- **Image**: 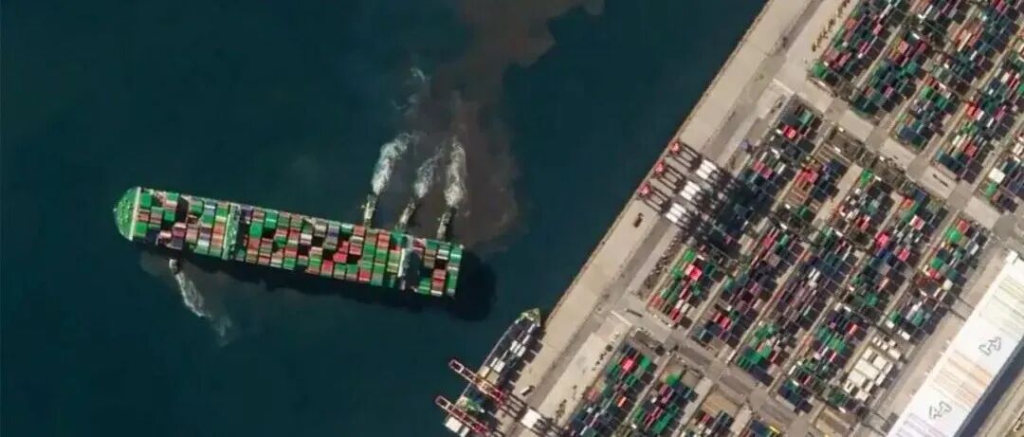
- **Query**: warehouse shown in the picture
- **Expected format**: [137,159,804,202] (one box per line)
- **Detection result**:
[886,246,1024,437]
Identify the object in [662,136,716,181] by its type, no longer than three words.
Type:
container crane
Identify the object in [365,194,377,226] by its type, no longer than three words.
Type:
boat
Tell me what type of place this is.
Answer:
port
